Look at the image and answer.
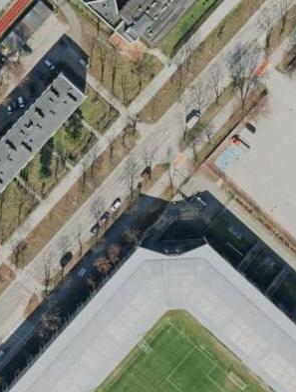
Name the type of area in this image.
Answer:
sports ground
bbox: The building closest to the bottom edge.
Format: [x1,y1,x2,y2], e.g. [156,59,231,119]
[0,72,85,191]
